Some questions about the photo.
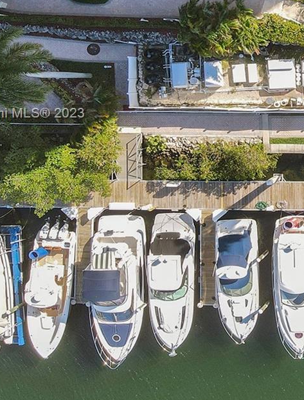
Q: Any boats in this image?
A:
Yes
